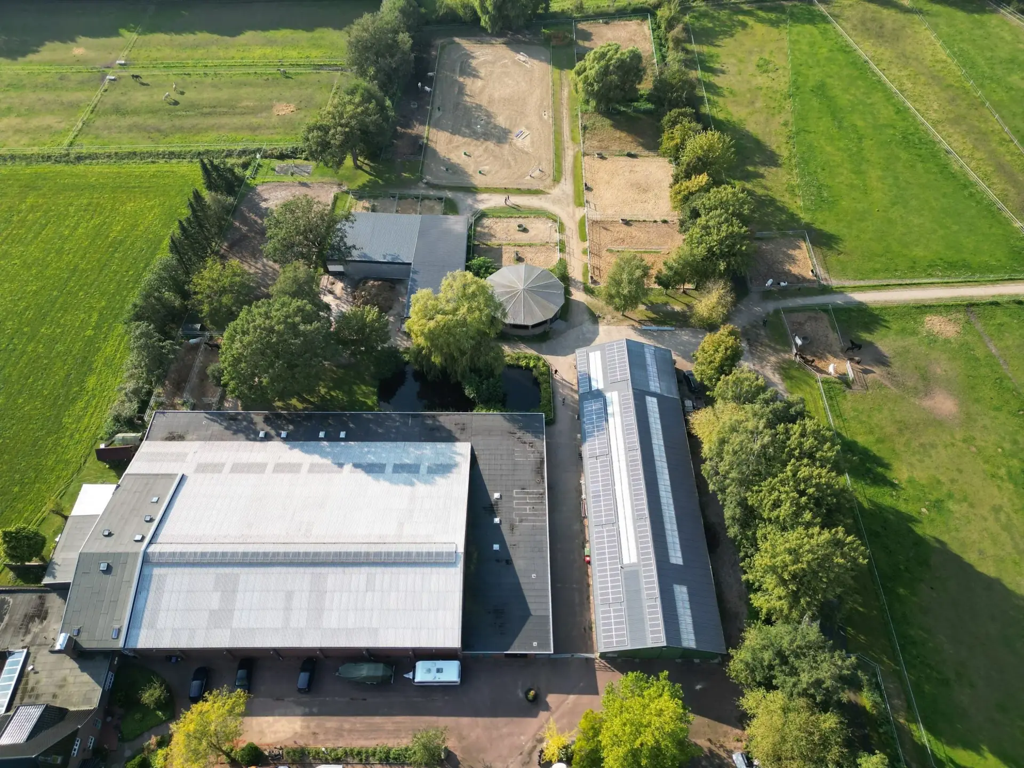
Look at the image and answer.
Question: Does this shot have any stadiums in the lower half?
No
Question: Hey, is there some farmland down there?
Yes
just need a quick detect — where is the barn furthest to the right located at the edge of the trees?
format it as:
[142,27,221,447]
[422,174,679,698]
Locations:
[575,339,729,660]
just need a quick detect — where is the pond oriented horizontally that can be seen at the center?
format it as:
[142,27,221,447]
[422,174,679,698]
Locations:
[375,361,542,411]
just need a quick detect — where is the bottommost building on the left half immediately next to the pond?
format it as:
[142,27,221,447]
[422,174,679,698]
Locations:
[47,411,553,667]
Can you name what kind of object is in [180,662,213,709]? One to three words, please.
car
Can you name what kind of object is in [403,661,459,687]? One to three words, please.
camper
